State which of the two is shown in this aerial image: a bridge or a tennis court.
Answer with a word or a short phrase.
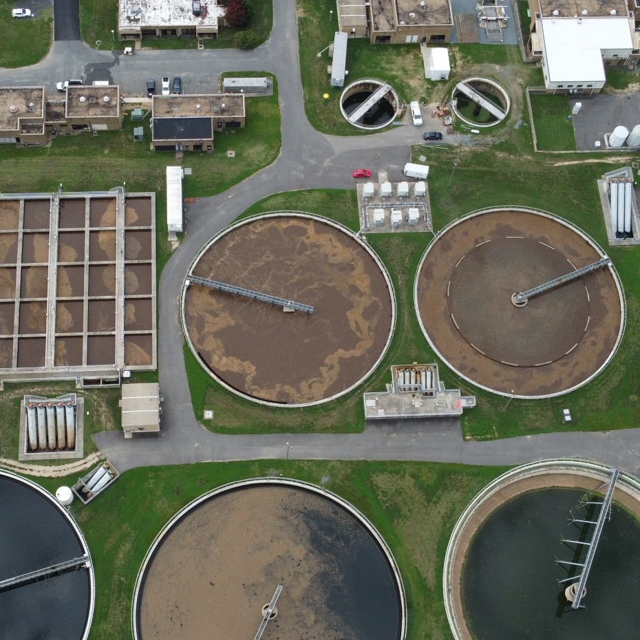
bridge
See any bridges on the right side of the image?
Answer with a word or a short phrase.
Yes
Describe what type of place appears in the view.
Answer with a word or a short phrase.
industrial area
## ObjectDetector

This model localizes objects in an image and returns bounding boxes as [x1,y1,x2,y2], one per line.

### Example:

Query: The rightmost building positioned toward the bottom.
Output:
[363,360,476,420]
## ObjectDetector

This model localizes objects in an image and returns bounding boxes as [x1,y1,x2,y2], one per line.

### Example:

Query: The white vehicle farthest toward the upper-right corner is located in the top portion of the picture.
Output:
[409,99,424,127]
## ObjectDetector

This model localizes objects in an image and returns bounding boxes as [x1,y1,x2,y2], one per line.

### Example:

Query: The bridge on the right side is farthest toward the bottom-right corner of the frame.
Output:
[570,468,620,609]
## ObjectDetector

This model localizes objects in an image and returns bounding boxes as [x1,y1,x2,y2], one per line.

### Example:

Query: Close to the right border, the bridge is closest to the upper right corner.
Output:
[515,256,614,302]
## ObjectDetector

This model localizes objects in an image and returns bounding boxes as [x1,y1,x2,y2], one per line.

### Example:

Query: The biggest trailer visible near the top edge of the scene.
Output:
[322,32,348,90]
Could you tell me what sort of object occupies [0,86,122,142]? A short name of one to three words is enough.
building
